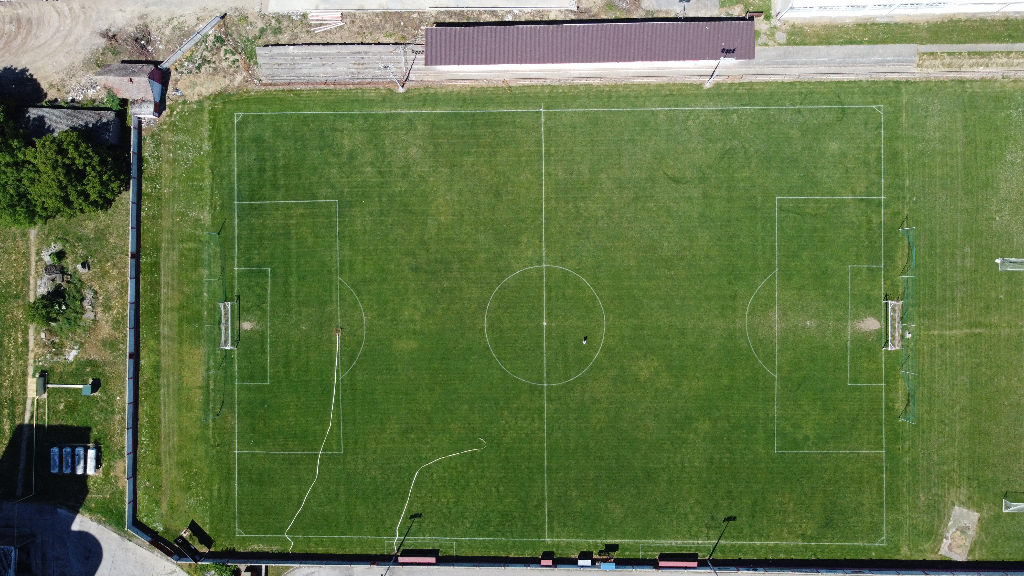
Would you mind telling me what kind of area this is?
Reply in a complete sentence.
What you see here is a sports ground.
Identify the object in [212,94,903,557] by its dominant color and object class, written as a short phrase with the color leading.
green soccer field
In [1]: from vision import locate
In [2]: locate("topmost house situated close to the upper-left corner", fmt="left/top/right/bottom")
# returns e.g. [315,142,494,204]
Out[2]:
[94,64,163,103]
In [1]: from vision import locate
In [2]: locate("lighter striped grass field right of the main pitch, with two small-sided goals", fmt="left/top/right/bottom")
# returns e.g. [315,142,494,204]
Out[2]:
[903,88,1024,555]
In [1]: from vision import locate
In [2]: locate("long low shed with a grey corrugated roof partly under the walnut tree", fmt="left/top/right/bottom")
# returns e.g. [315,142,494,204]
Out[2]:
[23,108,124,147]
